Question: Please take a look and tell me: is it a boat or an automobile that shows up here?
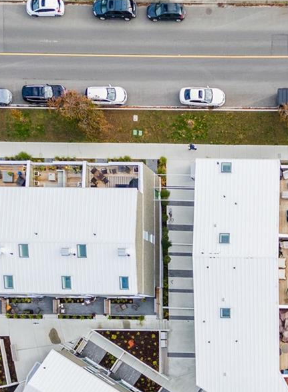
automobile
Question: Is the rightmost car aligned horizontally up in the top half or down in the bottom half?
top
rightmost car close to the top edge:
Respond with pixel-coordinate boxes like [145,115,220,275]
[146,1,186,23]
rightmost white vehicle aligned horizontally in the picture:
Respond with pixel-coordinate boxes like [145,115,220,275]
[181,87,225,107]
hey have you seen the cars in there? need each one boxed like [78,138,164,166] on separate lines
[181,87,225,107]
[27,0,67,19]
[0,89,14,106]
[21,82,66,105]
[146,1,186,23]
[85,84,129,106]
[93,0,138,21]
